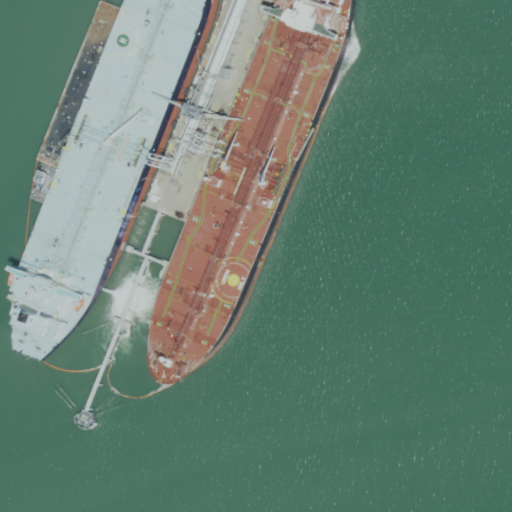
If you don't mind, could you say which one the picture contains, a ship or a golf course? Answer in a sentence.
Looking from above, you can make out a ship.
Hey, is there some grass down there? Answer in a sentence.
No, grass can't be seen anywhere here.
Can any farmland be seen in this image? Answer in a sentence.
No, there's no farmland in this view.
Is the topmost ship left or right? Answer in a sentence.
The topmost ship appears in the left half of the scene.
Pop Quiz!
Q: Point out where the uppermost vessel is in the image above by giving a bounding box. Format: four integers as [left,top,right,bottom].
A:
[37,1,120,167]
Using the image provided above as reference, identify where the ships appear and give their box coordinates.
[37,1,120,167]
[4,0,220,360]
[146,0,353,385]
